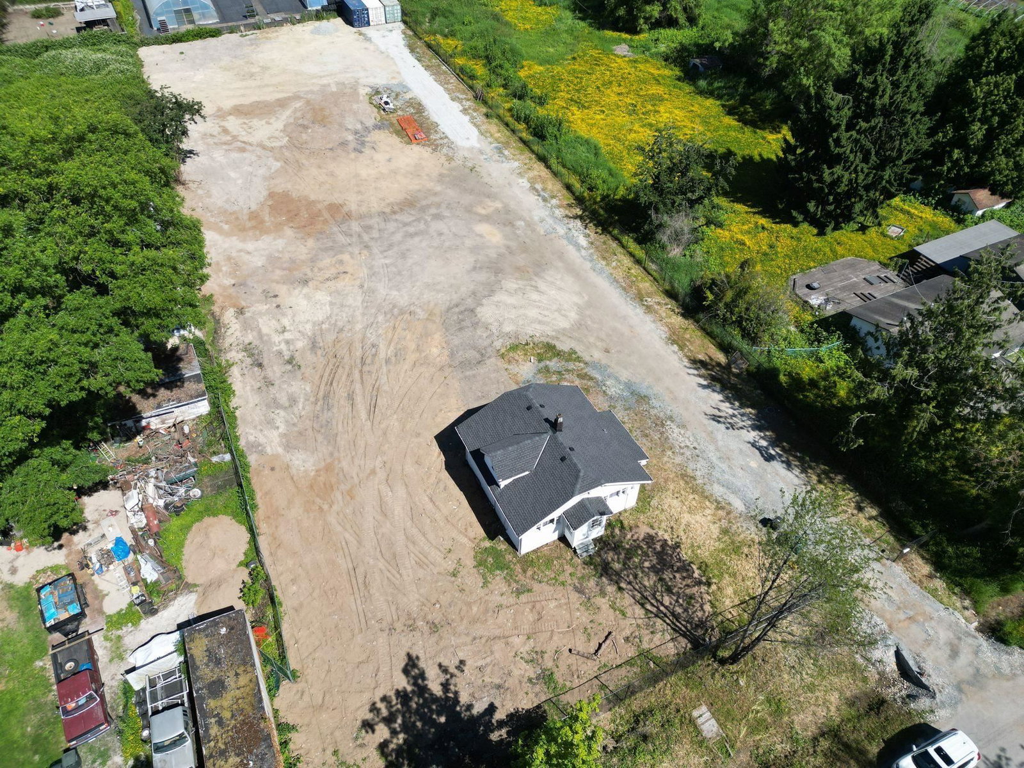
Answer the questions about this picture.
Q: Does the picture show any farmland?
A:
No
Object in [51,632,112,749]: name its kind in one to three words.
truck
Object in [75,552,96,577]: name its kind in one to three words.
work vehicle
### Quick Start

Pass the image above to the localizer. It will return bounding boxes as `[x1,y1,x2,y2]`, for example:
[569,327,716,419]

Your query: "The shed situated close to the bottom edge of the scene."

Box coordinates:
[182,604,286,768]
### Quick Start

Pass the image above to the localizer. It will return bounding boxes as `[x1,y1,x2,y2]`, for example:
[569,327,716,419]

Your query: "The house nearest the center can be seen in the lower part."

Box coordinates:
[455,382,652,558]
